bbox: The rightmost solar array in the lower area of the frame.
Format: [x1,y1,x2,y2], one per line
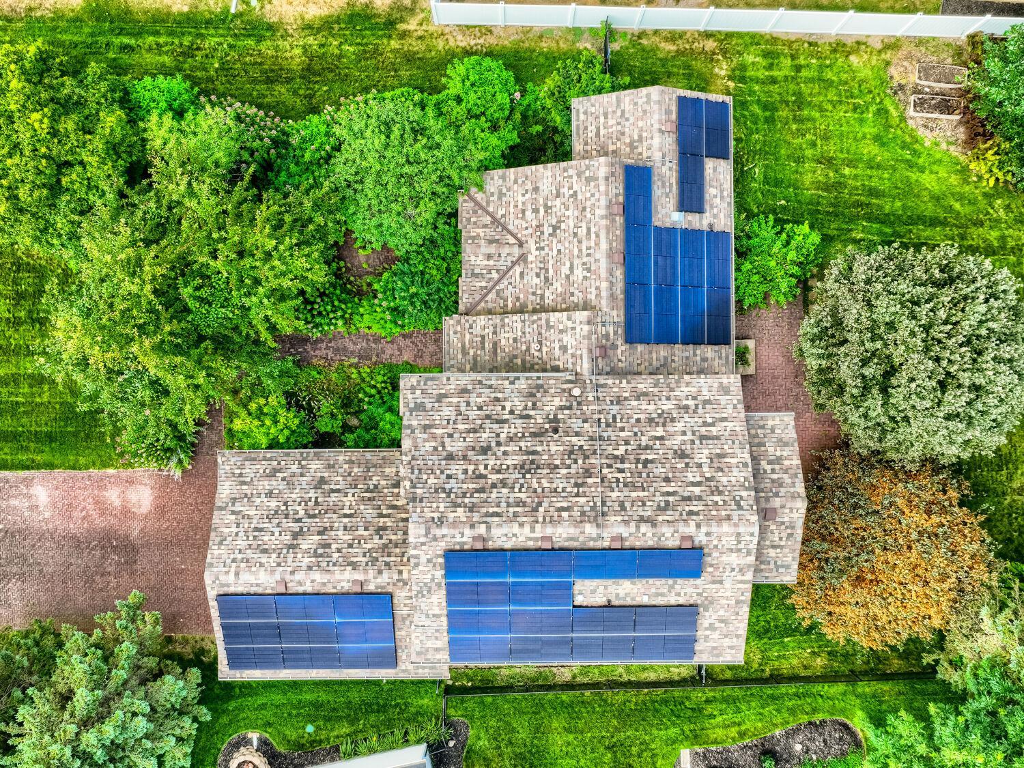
[442,550,705,665]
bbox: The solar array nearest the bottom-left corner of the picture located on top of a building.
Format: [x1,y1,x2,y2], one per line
[216,593,397,671]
